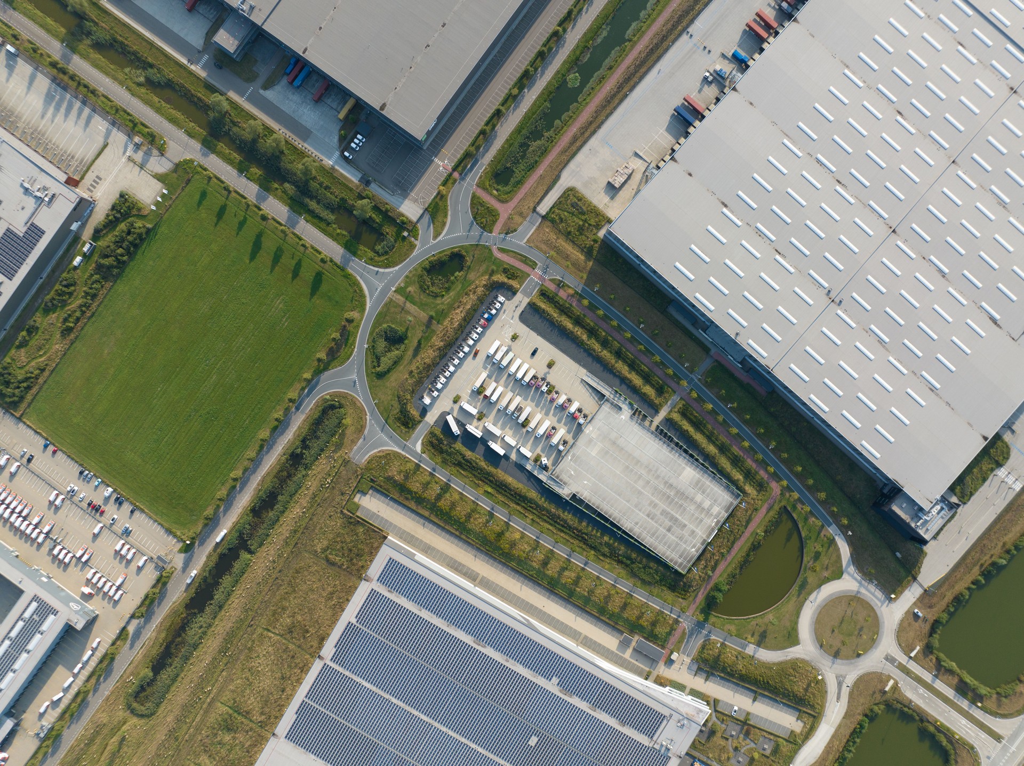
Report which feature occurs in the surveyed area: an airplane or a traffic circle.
traffic circle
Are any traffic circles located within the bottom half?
Yes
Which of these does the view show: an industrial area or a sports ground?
industrial area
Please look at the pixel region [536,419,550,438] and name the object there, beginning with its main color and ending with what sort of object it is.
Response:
white vehicle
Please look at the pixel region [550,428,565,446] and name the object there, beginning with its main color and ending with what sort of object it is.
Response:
white vehicle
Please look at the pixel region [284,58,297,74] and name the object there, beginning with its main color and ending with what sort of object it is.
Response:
blue vehicle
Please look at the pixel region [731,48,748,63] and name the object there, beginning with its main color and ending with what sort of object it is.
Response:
blue vehicle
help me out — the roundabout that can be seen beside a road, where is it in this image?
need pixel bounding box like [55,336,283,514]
[799,580,895,673]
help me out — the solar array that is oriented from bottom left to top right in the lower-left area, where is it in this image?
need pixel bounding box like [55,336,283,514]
[0,595,58,692]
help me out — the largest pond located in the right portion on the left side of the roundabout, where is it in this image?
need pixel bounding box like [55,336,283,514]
[710,506,803,617]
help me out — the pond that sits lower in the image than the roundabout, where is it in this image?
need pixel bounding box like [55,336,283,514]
[848,705,946,766]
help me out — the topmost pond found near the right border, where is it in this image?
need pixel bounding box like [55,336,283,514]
[937,550,1024,690]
